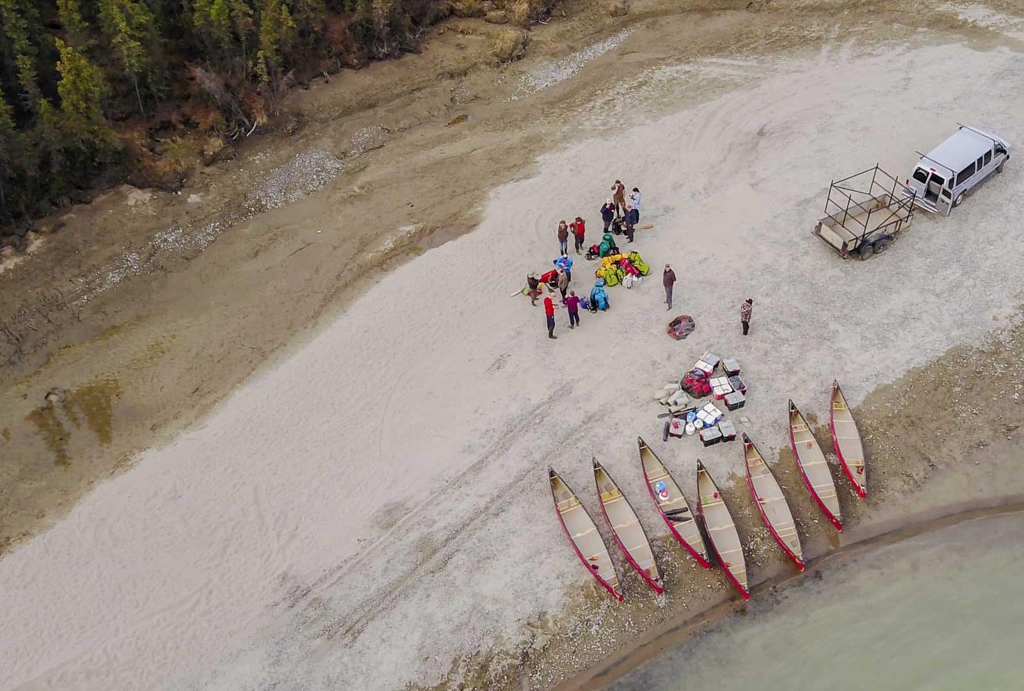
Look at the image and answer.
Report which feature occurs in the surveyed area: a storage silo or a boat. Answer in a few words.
boat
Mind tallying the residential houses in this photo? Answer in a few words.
zero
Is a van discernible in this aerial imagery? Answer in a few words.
Yes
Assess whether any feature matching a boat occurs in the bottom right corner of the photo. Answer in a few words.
Yes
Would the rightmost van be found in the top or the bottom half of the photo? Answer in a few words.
top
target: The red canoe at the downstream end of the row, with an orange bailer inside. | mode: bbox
[550,465,624,604]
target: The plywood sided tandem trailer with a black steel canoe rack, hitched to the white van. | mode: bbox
[809,162,921,260]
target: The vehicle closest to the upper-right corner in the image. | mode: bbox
[898,121,1017,215]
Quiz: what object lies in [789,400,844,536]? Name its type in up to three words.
boat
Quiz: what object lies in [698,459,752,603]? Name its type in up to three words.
boat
